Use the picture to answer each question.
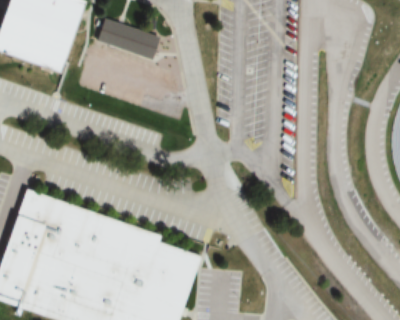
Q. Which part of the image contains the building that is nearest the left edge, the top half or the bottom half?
top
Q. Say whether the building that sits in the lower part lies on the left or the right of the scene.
left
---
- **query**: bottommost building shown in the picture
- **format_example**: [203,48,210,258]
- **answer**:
[0,188,203,320]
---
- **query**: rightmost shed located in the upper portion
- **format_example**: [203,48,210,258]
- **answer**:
[98,18,159,58]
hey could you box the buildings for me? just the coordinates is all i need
[0,188,203,320]
[0,0,86,74]
[98,18,159,58]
